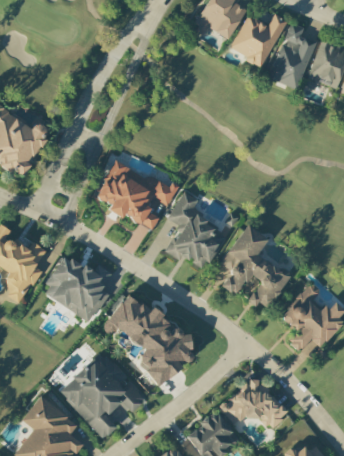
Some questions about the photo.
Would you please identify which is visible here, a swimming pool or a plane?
swimming pool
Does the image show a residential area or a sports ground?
residential area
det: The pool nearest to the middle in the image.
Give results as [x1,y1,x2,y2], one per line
[206,200,227,221]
